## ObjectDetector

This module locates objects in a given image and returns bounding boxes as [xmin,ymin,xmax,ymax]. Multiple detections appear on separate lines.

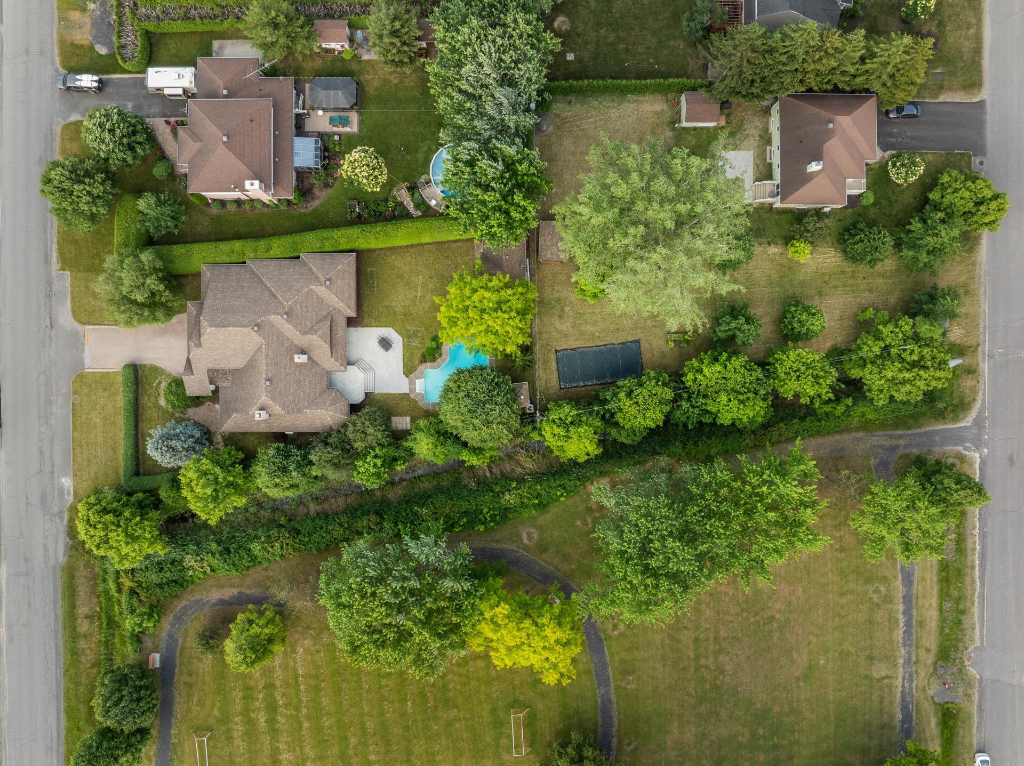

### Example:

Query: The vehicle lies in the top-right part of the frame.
[882,101,923,120]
